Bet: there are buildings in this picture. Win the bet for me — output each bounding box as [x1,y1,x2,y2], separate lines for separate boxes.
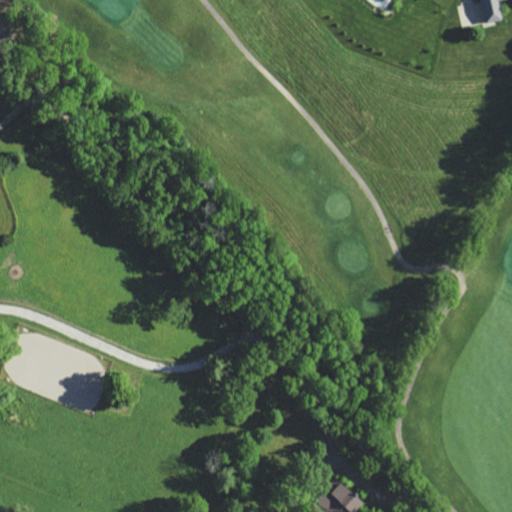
[483,0,503,18]
[328,484,360,512]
